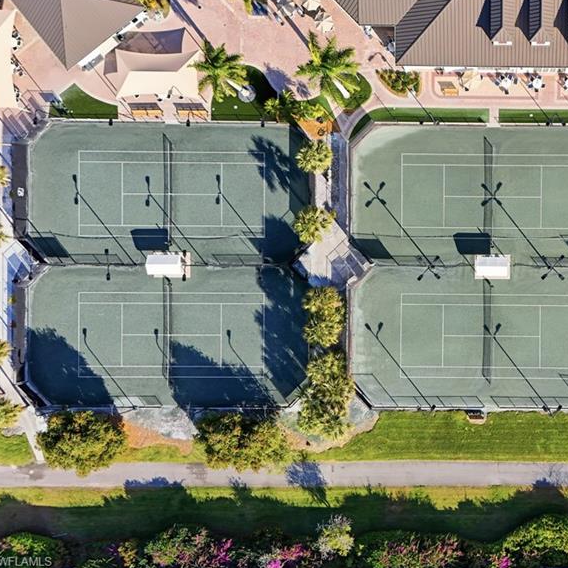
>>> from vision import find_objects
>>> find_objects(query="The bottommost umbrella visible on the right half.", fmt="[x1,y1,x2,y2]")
[460,73,476,90]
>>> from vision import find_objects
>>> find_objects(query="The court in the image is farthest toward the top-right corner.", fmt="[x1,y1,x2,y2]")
[349,122,568,265]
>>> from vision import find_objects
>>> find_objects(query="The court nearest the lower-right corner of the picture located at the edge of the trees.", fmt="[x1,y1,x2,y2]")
[349,265,568,409]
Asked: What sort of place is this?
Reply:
sports ground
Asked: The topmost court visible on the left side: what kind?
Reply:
tennis court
